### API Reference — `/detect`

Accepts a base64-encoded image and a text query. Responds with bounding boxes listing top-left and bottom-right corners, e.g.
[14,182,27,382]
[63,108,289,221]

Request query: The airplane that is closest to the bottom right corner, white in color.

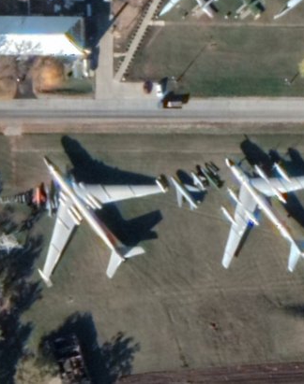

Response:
[214,158,304,270]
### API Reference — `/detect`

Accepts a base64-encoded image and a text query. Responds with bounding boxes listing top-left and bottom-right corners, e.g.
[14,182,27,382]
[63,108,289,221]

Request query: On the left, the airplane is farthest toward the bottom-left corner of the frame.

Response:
[37,157,166,283]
